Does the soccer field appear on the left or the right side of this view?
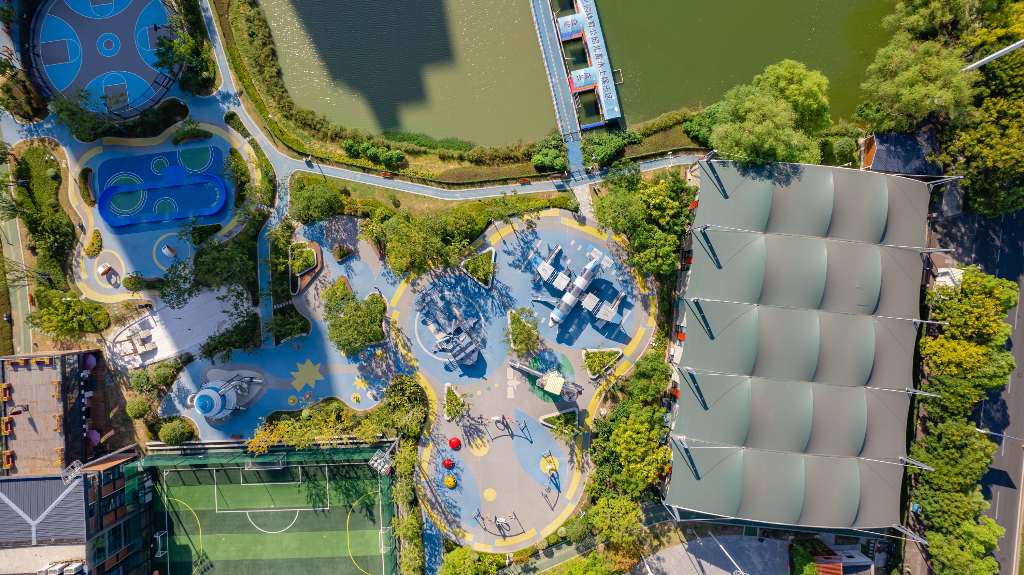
left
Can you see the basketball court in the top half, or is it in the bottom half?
top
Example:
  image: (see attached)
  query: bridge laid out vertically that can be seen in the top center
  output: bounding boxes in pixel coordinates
[528,0,586,170]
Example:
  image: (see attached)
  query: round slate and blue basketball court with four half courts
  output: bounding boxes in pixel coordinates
[30,0,186,123]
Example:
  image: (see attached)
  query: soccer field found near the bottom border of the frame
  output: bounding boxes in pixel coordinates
[153,449,400,575]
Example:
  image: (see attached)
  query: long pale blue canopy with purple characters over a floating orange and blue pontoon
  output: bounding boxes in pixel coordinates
[557,0,621,130]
